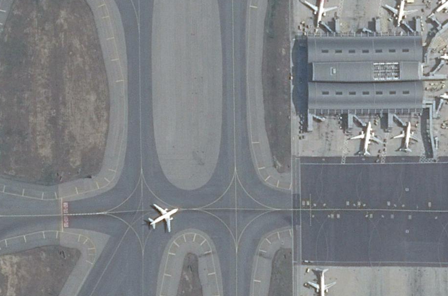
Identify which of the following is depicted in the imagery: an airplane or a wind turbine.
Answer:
airplane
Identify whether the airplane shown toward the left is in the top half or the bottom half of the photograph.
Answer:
bottom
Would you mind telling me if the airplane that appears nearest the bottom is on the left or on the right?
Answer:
right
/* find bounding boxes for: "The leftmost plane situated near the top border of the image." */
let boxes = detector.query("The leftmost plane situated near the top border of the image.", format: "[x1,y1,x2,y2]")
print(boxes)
[305,0,338,31]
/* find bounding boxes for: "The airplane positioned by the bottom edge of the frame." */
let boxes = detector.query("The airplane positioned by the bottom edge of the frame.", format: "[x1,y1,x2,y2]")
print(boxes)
[309,269,338,296]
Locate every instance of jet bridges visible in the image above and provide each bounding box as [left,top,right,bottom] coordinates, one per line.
[393,114,408,128]
[313,115,326,123]
[401,21,416,34]
[432,60,444,74]
[363,27,374,34]
[319,22,335,34]
[353,114,367,129]
[433,15,444,29]
[437,99,445,117]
